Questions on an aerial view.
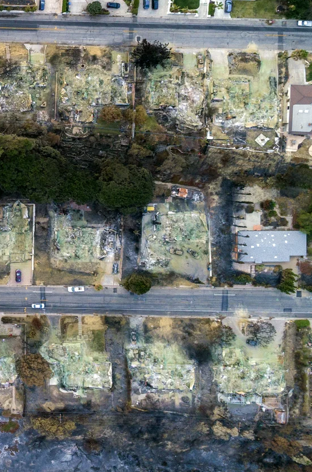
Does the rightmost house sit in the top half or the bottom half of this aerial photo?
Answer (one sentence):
You can find the rightmost house in the top half.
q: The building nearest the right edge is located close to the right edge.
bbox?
[279,84,312,134]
